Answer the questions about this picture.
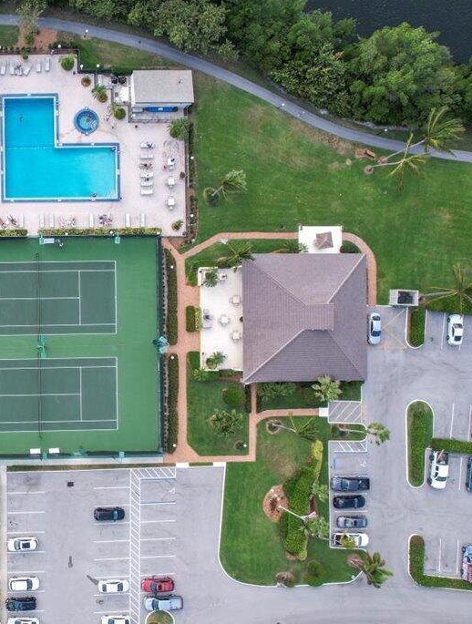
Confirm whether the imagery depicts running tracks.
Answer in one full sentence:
No, the picture doesn't show any running track.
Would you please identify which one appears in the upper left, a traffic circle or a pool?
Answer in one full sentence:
What appears in the upper left is a pool.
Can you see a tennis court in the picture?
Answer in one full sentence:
Yes, I can see a tennis court in this picture.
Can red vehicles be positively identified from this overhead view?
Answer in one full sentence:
Yes, a red vehicle appears in the view.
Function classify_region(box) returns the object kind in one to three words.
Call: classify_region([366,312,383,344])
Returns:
car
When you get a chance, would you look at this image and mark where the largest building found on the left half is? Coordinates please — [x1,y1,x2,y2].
[130,69,194,121]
